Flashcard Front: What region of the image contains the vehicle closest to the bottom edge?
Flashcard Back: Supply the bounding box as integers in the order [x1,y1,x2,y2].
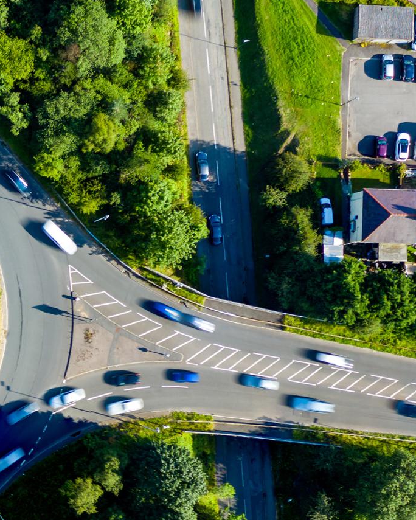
[0,446,25,473]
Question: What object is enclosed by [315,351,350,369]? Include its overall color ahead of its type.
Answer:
white car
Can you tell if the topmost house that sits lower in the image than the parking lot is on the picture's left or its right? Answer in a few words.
right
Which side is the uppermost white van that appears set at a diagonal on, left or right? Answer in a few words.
left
